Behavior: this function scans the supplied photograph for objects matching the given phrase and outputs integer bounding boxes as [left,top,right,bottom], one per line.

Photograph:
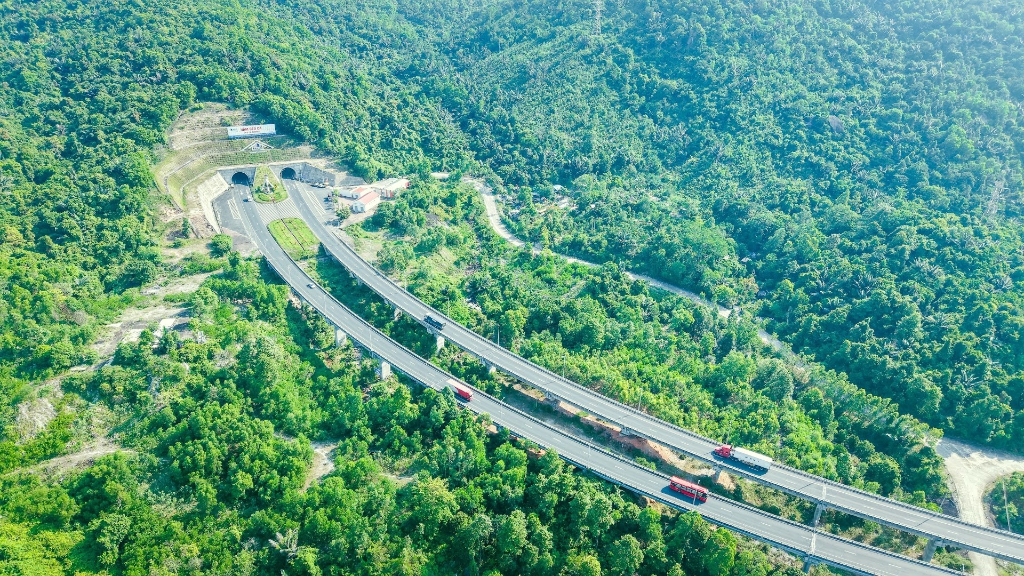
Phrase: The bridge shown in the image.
[323,240,1024,568]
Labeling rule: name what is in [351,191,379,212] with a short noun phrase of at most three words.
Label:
building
